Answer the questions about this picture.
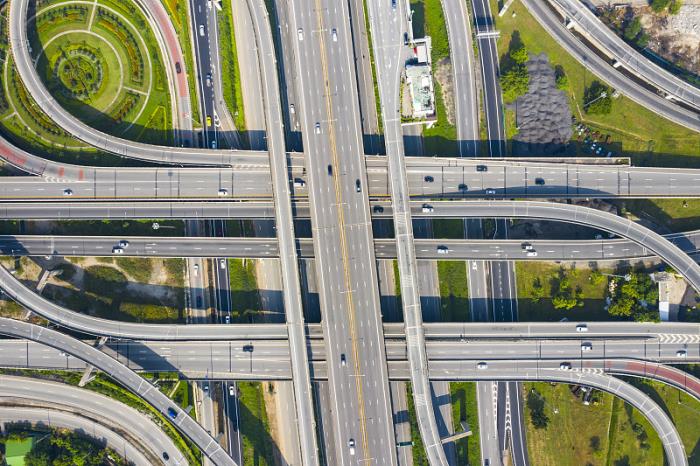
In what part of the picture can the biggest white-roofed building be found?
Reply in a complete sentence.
You can find the biggest white-roofed building in the top area of the picture.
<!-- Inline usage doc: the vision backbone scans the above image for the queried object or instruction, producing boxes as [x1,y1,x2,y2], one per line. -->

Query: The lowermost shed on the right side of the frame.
[655,280,669,321]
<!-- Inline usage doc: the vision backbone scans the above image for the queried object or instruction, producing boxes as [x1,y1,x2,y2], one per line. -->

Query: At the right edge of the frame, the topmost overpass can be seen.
[552,0,700,111]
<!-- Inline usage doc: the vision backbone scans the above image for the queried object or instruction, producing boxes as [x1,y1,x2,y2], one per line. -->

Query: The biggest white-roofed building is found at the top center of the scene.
[401,38,438,127]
